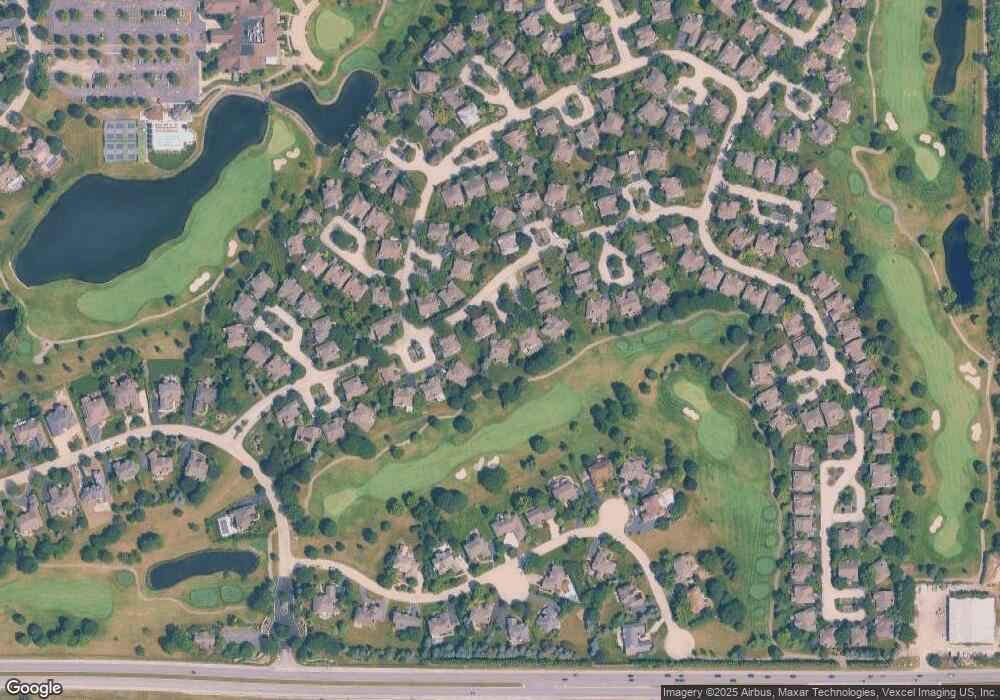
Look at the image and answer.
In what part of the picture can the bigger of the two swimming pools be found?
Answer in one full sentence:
Look in the top left portion of the view to spot the bigger of the two swimming pools.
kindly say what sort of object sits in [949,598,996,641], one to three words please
building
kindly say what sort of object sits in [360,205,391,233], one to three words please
house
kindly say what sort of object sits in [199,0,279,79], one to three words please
building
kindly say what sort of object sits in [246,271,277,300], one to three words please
house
